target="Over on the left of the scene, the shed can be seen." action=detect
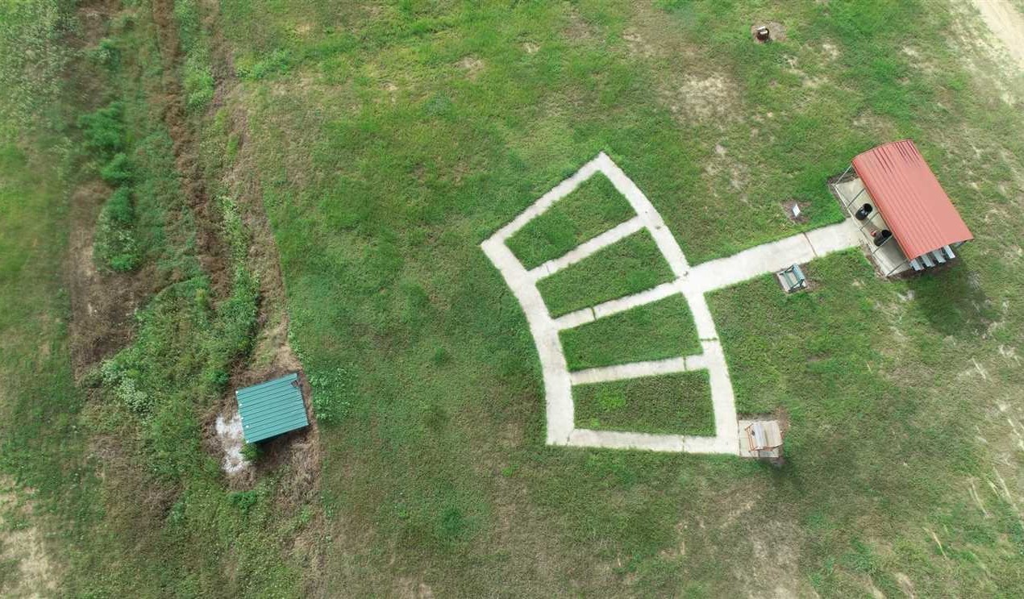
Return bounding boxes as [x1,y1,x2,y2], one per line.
[236,374,309,443]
